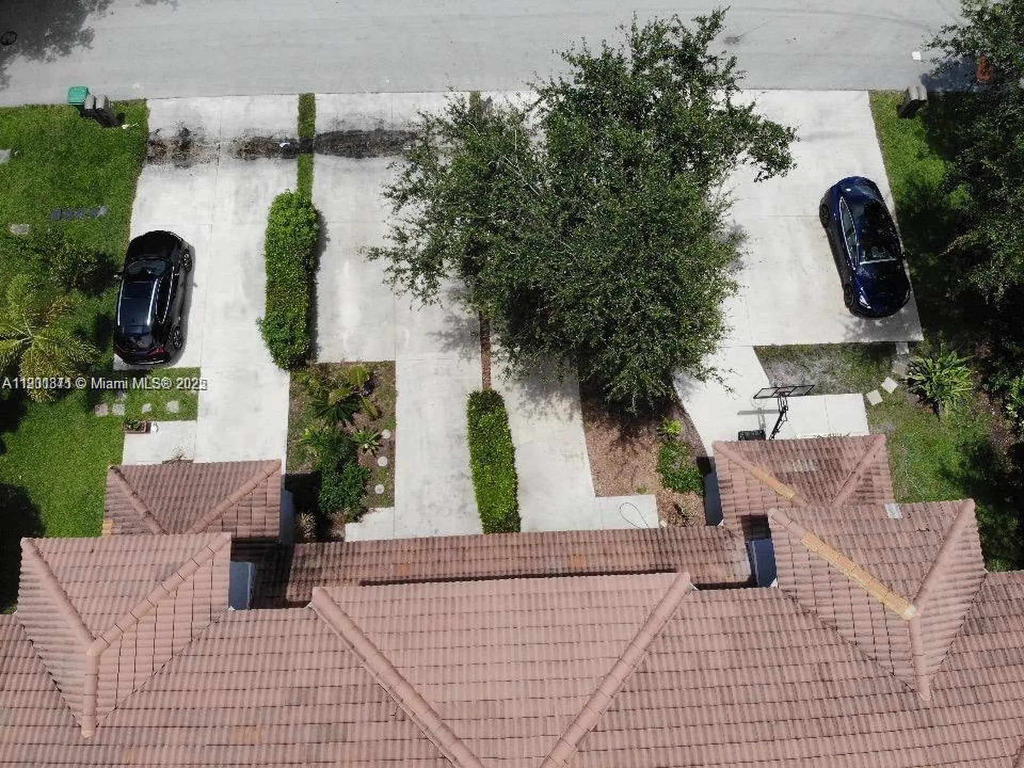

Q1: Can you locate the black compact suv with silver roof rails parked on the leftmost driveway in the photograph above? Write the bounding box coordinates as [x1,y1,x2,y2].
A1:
[108,231,193,367]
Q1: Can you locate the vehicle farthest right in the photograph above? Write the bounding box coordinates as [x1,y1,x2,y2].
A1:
[819,173,920,322]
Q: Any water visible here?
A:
No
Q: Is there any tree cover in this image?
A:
Yes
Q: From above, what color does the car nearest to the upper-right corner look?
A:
black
